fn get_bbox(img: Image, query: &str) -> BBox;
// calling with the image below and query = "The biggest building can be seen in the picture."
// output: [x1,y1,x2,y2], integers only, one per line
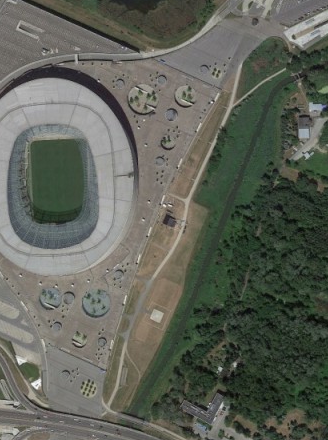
[180,392,224,425]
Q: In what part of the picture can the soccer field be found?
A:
left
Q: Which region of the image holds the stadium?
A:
left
